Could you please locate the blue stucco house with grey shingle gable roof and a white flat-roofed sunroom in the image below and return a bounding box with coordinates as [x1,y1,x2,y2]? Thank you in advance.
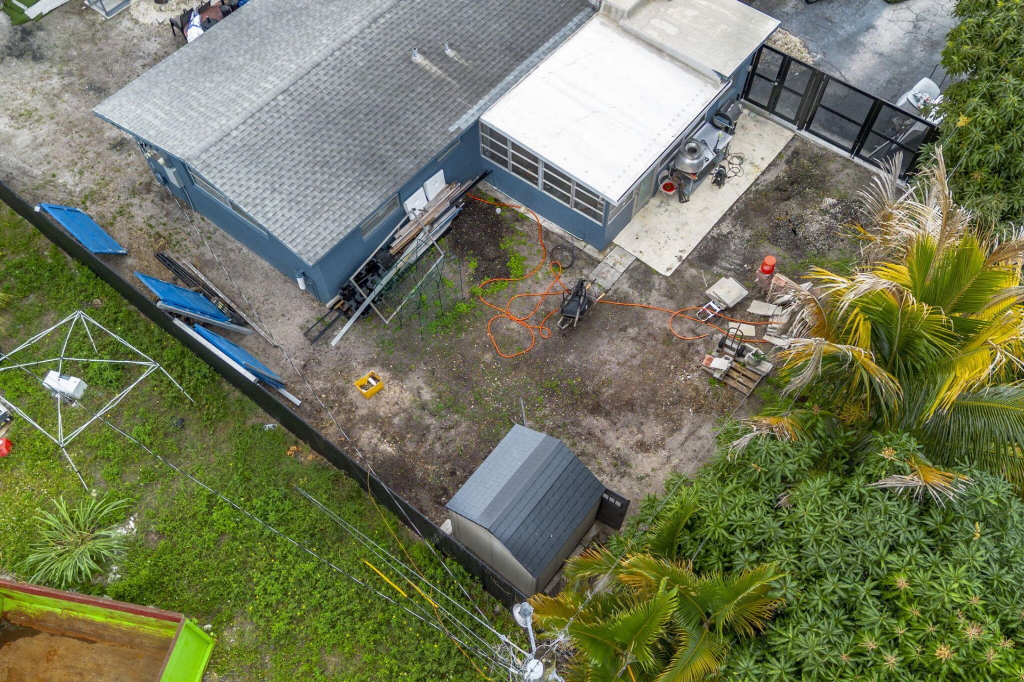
[90,0,784,308]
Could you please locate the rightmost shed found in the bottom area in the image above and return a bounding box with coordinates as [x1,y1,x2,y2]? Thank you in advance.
[444,425,629,597]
